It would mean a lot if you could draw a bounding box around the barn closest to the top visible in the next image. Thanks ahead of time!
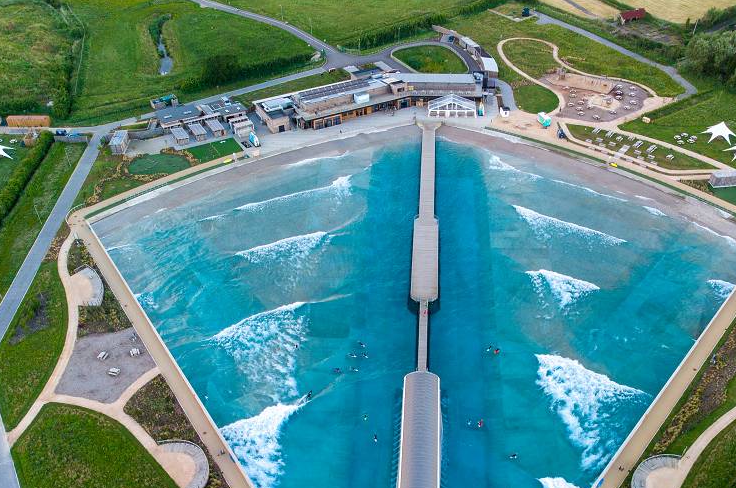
[621,6,648,25]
